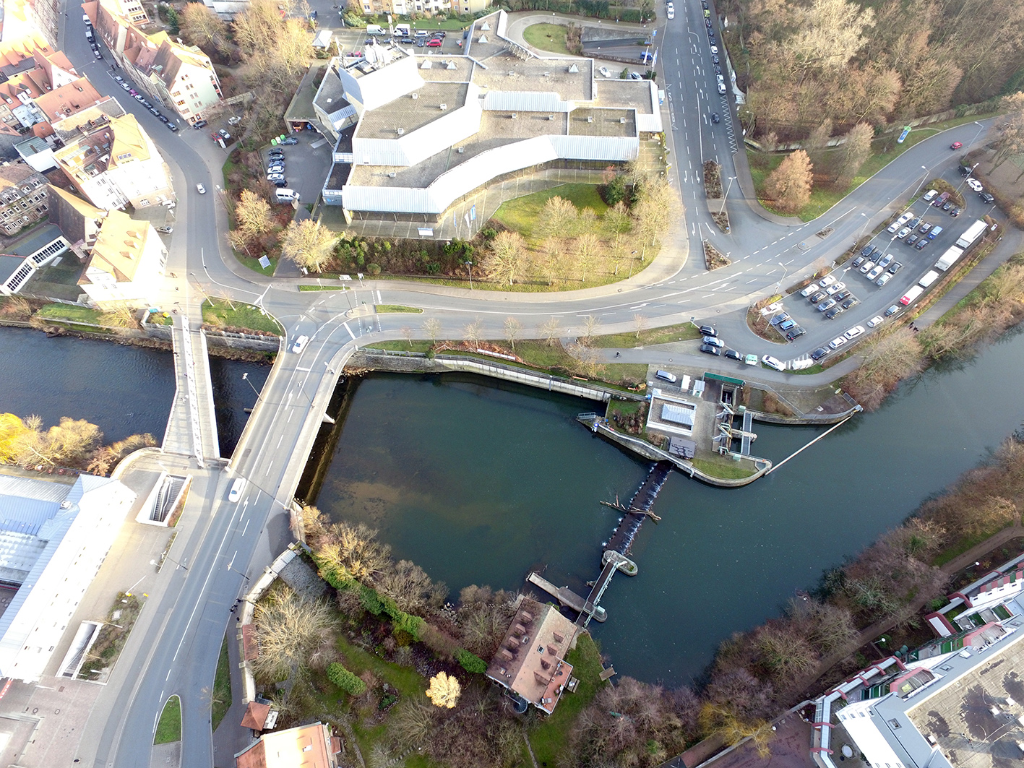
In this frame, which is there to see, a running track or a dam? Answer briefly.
dam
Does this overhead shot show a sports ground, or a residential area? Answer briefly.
residential area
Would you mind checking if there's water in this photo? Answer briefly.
Yes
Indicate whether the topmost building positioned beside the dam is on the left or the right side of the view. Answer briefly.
right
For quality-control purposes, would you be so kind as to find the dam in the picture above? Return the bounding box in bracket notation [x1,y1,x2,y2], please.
[603,459,674,555]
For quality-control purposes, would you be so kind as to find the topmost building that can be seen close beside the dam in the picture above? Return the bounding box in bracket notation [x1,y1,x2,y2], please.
[644,388,696,440]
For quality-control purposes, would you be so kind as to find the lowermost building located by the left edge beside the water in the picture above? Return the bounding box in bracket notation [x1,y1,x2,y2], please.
[0,465,136,703]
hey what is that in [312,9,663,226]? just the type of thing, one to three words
building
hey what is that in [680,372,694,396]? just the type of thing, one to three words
vehicle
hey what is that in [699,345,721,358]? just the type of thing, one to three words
vehicle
